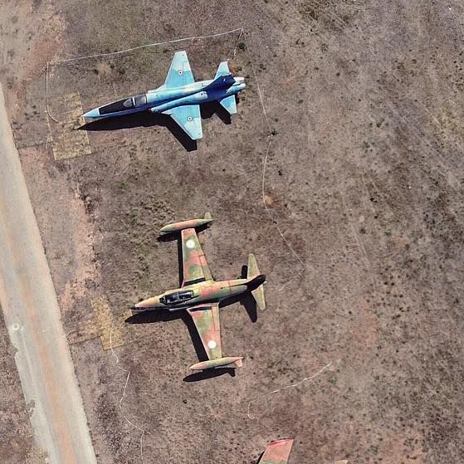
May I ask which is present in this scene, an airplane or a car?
airplane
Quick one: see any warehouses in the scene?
No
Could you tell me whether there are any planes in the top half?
Yes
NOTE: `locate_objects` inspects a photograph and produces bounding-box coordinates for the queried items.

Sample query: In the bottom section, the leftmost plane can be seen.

[134,210,269,369]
